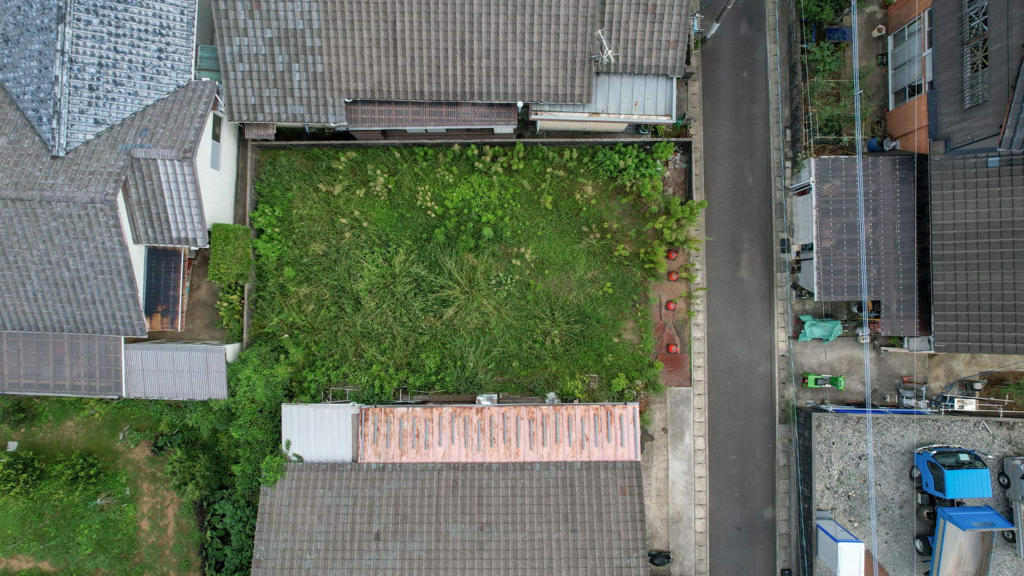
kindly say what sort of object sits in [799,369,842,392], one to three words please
work vehicle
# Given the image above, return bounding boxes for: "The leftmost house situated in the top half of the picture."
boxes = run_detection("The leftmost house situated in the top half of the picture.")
[0,0,241,399]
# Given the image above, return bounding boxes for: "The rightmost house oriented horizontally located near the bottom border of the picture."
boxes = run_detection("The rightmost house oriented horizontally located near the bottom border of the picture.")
[252,398,649,576]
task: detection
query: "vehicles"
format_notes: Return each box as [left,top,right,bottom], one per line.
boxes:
[910,440,1012,576]
[799,369,842,392]
[1000,455,1024,564]
[648,549,681,572]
